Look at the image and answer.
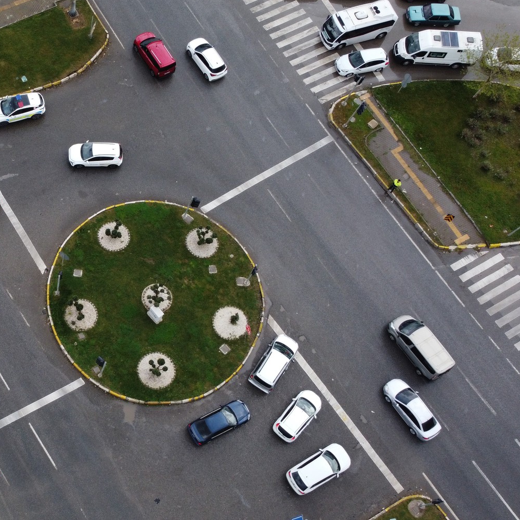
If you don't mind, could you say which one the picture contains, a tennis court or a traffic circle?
traffic circle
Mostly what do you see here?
paved ground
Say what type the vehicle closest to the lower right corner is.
automobile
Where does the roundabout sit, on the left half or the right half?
left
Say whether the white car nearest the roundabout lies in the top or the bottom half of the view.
bottom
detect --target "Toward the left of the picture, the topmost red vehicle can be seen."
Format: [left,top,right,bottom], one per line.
[135,32,176,79]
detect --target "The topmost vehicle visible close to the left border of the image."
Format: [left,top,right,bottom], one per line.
[0,90,46,127]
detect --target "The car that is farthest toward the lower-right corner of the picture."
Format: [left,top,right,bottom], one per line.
[382,380,443,442]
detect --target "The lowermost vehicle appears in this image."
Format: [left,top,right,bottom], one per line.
[285,445,353,495]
